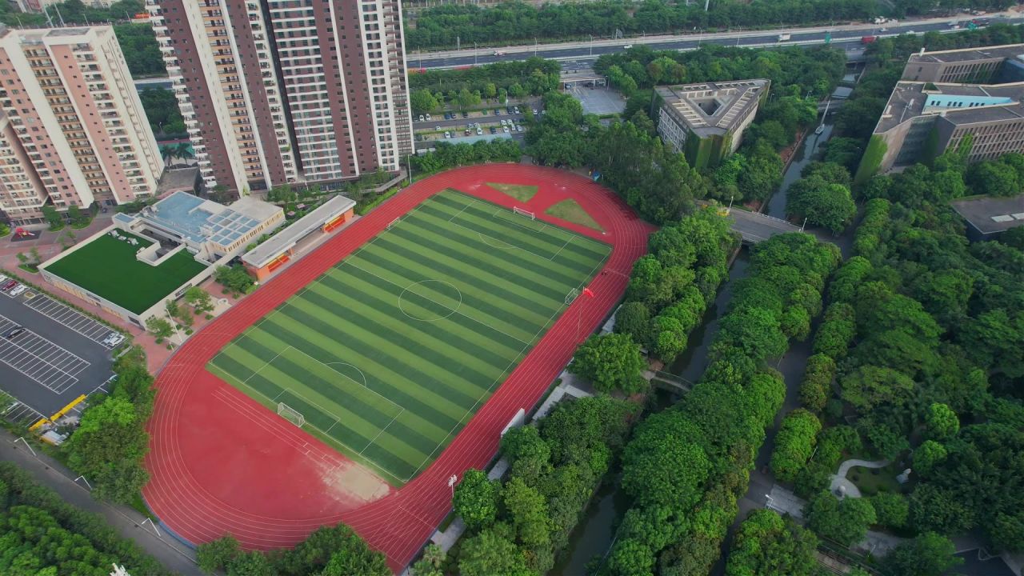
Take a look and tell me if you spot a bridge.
Yes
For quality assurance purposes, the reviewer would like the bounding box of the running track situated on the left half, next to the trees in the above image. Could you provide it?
[137,161,653,576]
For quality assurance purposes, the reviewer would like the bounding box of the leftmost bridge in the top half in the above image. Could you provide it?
[737,209,790,245]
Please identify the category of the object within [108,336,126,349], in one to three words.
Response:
vehicle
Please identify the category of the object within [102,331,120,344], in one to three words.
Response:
vehicle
